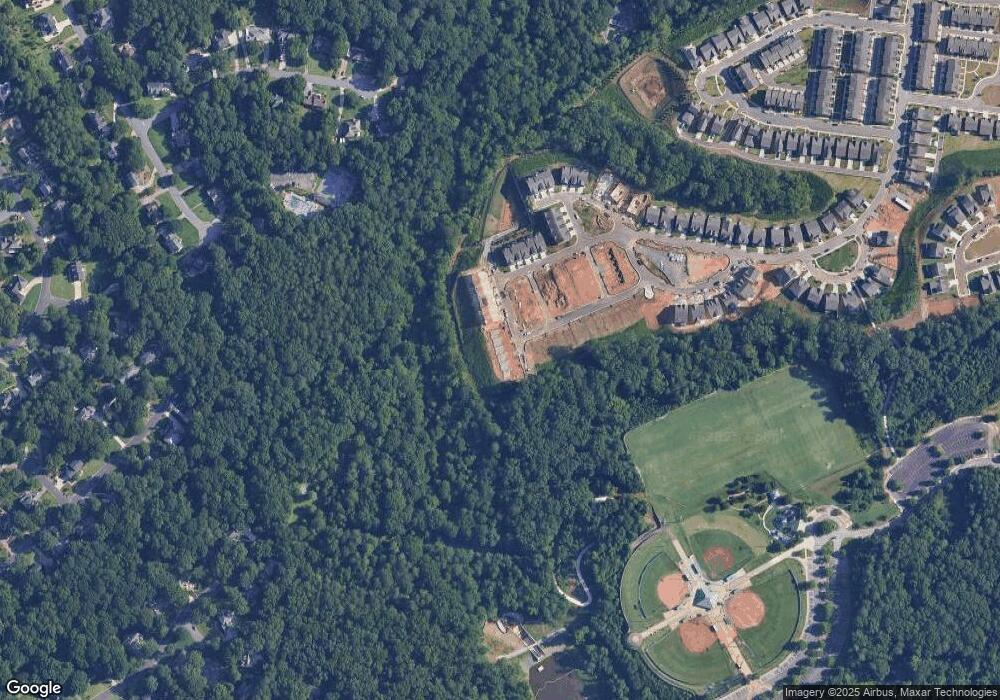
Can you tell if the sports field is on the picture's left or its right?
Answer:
right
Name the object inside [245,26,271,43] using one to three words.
house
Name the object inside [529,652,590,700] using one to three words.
pond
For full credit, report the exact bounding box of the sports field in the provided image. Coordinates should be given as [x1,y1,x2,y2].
[626,365,885,521]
